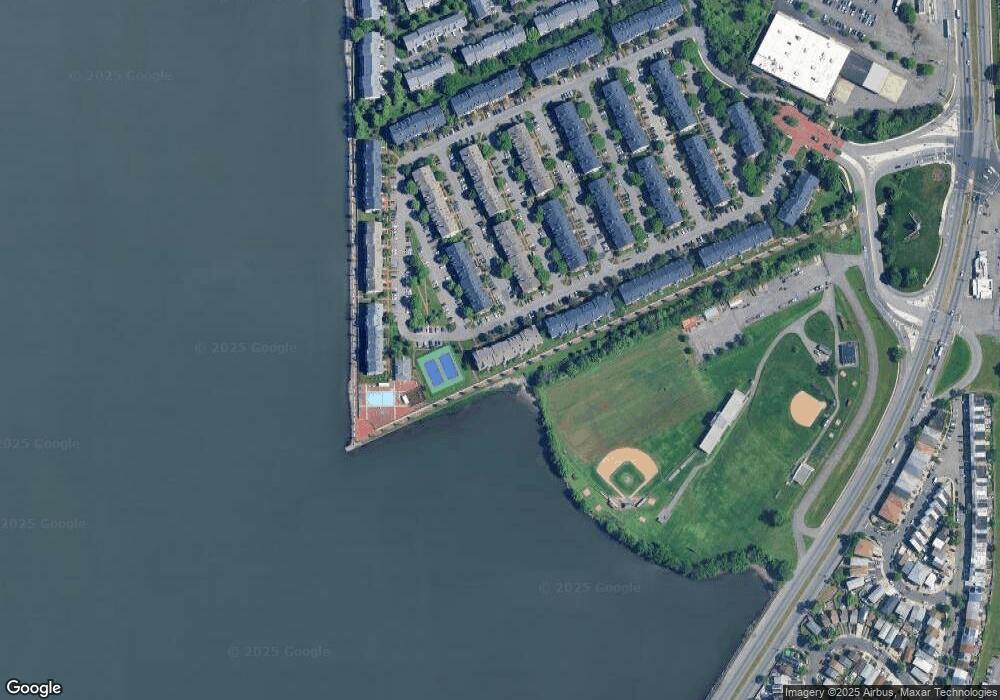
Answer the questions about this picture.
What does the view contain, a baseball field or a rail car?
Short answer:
baseball field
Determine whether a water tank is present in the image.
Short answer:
No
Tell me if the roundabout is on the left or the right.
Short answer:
right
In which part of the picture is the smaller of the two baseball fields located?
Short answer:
right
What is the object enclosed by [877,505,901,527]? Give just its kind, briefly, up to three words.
house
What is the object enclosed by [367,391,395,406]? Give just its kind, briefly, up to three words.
swimming pool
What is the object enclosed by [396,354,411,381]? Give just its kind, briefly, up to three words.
building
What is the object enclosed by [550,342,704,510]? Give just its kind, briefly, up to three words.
baseball field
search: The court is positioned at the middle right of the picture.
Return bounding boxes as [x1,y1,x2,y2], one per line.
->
[838,341,858,367]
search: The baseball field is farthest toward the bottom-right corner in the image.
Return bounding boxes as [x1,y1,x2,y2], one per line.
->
[790,390,826,428]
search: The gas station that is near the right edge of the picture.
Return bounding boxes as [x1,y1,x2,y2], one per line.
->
[973,251,992,299]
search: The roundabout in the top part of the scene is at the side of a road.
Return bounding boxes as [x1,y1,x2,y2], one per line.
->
[836,80,1000,374]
